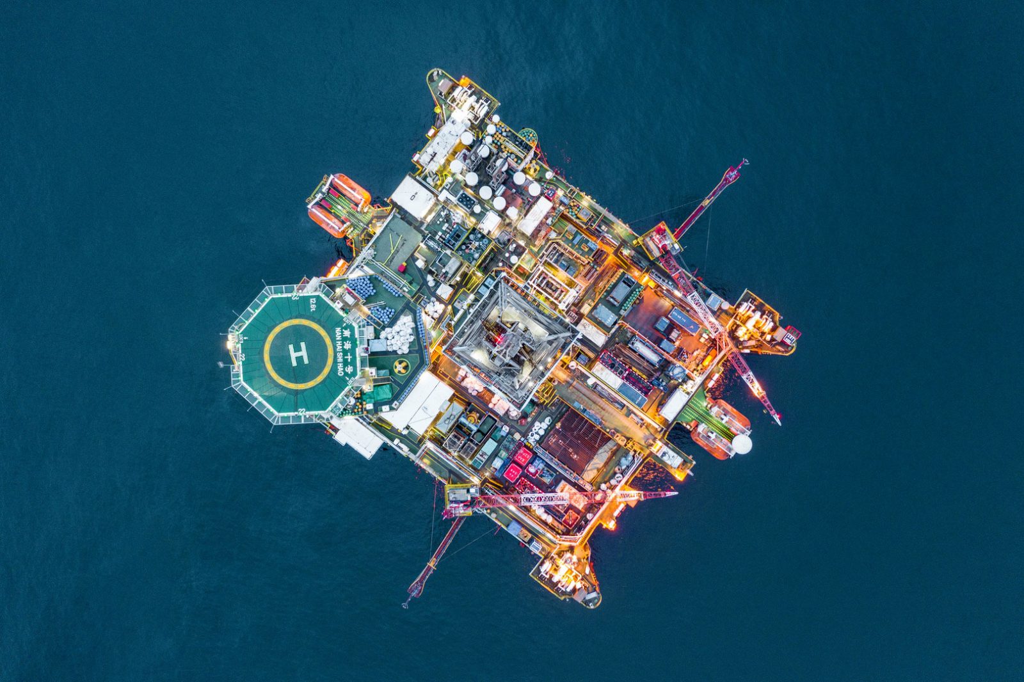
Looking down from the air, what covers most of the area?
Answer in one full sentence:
The largest share of the image is taken up by water.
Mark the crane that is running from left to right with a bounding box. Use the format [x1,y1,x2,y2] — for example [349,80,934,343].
[447,479,680,528]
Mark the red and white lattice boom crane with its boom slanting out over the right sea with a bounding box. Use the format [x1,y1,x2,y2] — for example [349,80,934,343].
[637,218,782,426]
